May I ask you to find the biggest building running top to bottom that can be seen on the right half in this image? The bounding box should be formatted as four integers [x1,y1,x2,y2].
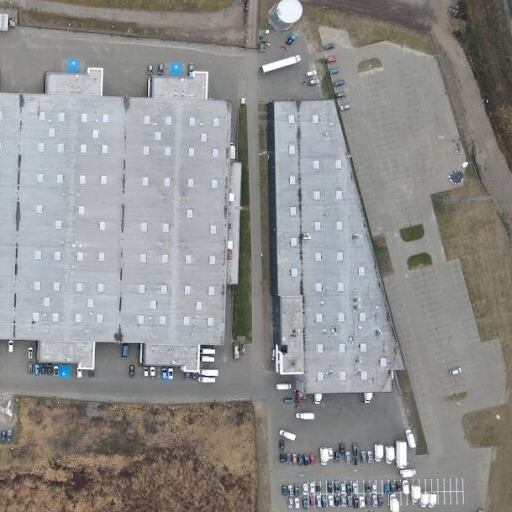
[267,99,405,394]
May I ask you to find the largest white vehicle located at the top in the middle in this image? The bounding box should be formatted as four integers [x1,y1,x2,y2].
[258,54,302,74]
